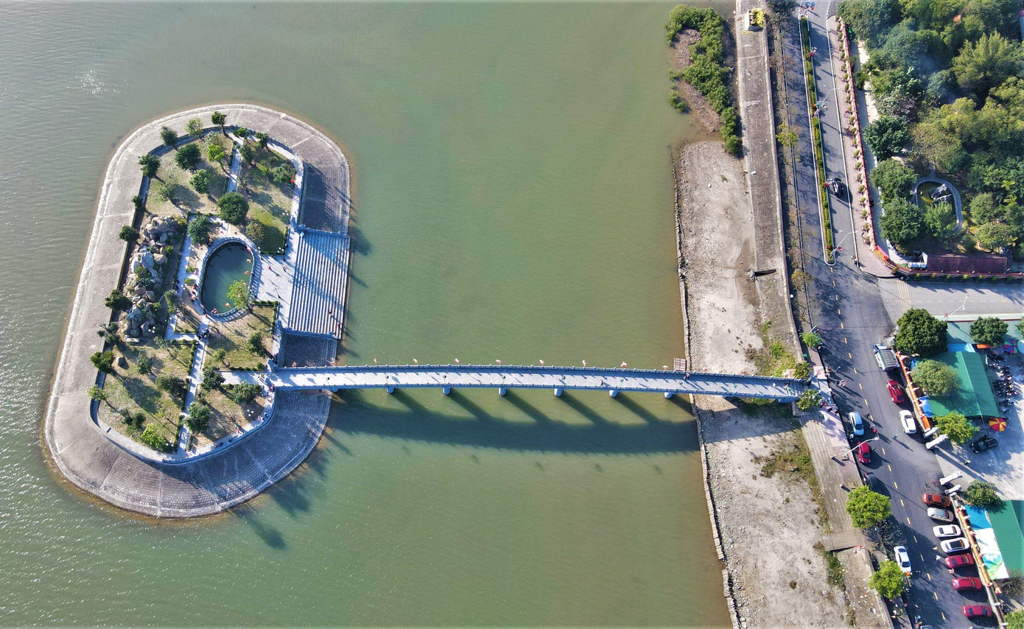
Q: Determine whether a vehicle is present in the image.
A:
Yes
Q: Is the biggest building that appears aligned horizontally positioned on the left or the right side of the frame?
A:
right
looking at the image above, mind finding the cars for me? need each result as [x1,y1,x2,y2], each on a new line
[968,435,1000,452]
[892,544,912,575]
[925,506,955,523]
[846,411,864,436]
[885,380,907,405]
[910,623,924,629]
[856,440,873,465]
[931,523,962,537]
[829,178,845,197]
[944,552,975,568]
[921,494,951,508]
[859,468,879,491]
[961,603,994,619]
[896,409,919,435]
[938,537,970,552]
[950,575,983,591]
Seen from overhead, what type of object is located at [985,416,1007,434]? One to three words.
umbrella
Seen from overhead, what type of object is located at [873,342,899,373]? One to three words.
truck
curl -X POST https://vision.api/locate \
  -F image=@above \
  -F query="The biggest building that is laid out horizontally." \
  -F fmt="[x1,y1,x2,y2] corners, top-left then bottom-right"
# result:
[914,254,1006,281]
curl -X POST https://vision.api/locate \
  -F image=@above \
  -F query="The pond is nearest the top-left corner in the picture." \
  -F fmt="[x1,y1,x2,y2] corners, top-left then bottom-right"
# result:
[195,235,258,318]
